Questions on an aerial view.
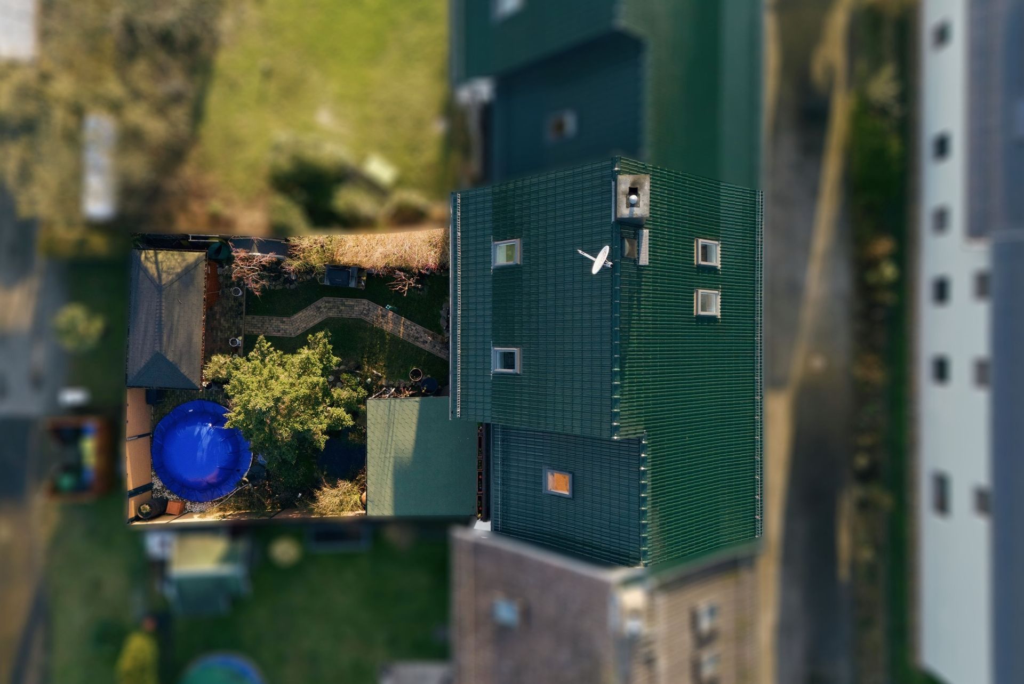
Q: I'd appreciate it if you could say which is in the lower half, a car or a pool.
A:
pool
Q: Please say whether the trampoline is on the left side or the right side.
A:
left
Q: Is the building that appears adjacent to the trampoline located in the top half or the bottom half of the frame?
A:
bottom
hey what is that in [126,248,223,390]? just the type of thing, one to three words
shed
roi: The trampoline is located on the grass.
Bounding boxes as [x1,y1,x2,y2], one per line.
[183,649,268,684]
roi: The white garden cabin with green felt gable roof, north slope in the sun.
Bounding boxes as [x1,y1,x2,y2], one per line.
[166,528,261,615]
